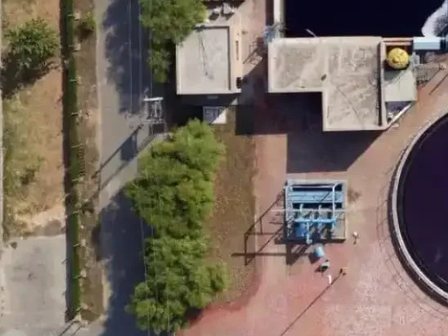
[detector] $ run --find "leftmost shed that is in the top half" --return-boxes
[177,22,241,94]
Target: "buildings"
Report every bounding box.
[269,37,389,131]
[177,22,241,94]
